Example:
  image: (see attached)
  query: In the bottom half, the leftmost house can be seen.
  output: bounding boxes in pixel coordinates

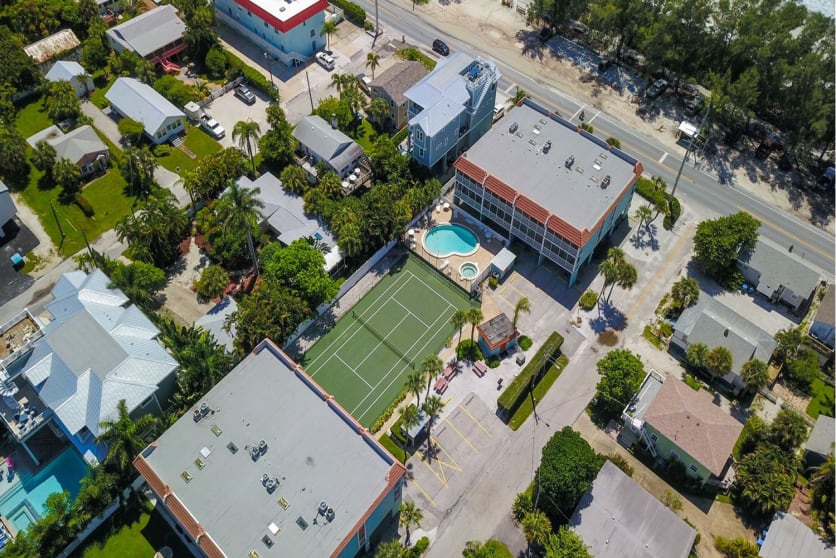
[0,266,193,473]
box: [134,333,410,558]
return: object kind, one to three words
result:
building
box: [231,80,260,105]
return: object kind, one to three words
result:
truck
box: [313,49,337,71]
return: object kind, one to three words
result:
car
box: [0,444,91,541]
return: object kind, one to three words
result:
swimming pool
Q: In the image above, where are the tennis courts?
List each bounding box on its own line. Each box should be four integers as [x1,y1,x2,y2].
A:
[294,250,482,430]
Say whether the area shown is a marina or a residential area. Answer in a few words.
residential area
